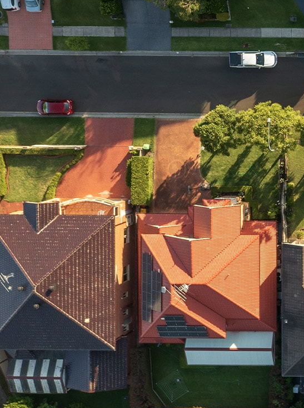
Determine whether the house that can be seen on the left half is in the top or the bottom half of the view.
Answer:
bottom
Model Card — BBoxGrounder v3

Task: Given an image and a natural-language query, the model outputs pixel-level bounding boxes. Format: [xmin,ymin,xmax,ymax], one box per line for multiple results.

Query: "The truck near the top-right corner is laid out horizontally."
[229,49,279,71]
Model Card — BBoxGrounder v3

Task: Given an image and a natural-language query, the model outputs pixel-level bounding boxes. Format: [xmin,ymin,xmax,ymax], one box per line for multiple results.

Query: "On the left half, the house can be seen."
[0,196,136,394]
